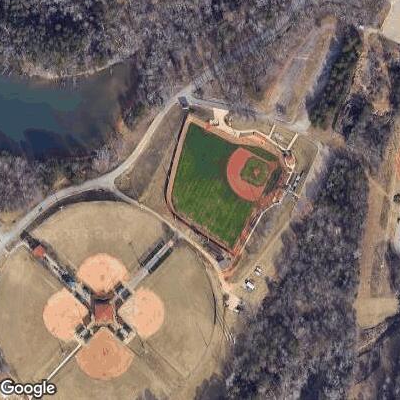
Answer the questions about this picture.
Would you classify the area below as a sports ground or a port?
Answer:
sports ground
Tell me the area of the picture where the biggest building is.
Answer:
bottom left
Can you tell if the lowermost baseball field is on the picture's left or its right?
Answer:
left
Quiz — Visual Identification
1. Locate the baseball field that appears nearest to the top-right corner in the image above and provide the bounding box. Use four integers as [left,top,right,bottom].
[165,113,288,256]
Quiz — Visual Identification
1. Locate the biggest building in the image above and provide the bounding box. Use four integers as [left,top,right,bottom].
[94,302,113,324]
